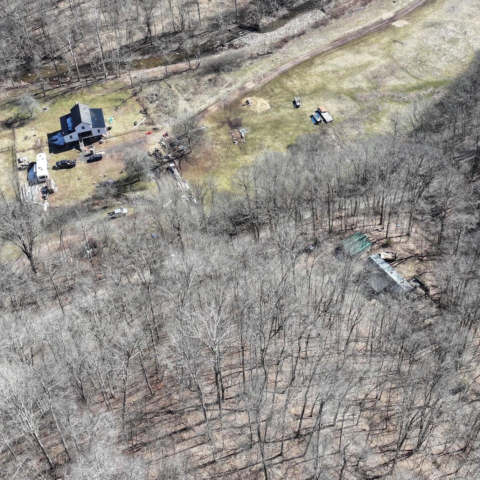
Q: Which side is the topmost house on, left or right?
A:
left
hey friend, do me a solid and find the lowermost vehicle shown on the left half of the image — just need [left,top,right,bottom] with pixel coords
[105,209,130,222]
